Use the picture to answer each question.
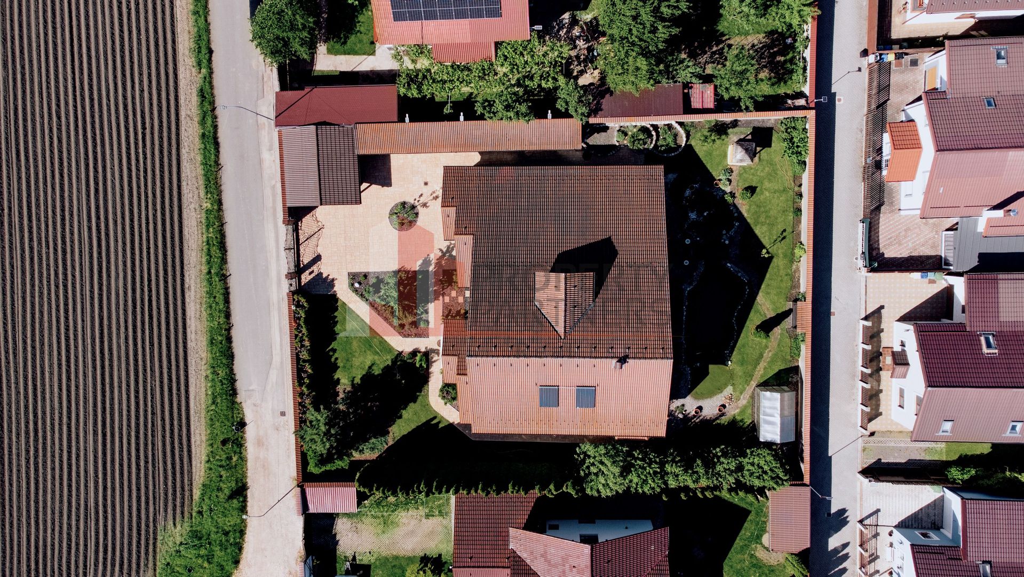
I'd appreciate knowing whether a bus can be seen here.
No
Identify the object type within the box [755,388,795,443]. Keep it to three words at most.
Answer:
greenhouse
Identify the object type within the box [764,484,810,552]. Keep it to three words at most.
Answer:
building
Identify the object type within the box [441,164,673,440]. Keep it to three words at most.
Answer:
house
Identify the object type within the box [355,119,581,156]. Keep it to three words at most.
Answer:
shed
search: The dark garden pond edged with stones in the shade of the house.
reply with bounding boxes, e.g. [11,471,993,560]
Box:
[674,195,749,395]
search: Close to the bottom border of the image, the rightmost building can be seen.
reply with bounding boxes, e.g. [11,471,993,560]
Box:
[896,491,1024,577]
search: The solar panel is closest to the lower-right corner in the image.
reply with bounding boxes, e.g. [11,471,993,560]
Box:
[576,388,596,410]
